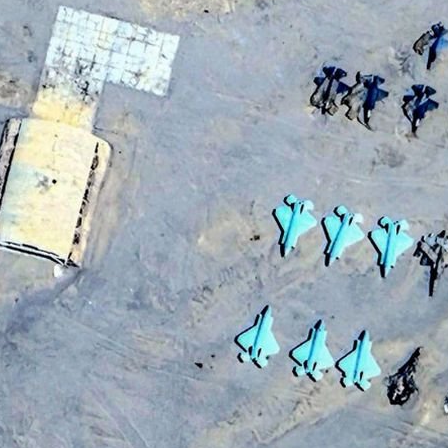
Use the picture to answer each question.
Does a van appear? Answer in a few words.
No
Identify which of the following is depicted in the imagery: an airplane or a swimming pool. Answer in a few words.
airplane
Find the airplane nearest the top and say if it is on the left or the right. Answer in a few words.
right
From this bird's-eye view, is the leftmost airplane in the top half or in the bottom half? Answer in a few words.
bottom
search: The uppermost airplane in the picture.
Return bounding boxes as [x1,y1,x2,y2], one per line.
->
[414,21,448,68]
